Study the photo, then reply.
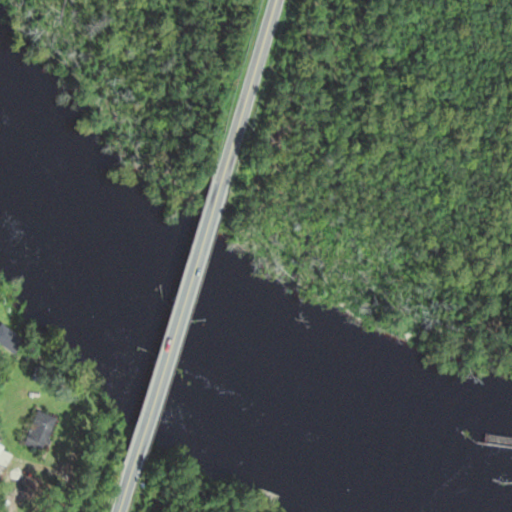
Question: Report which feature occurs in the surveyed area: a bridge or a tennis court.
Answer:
bridge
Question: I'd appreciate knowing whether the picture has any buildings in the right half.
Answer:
No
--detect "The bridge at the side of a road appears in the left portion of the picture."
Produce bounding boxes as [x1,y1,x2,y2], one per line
[124,174,234,475]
